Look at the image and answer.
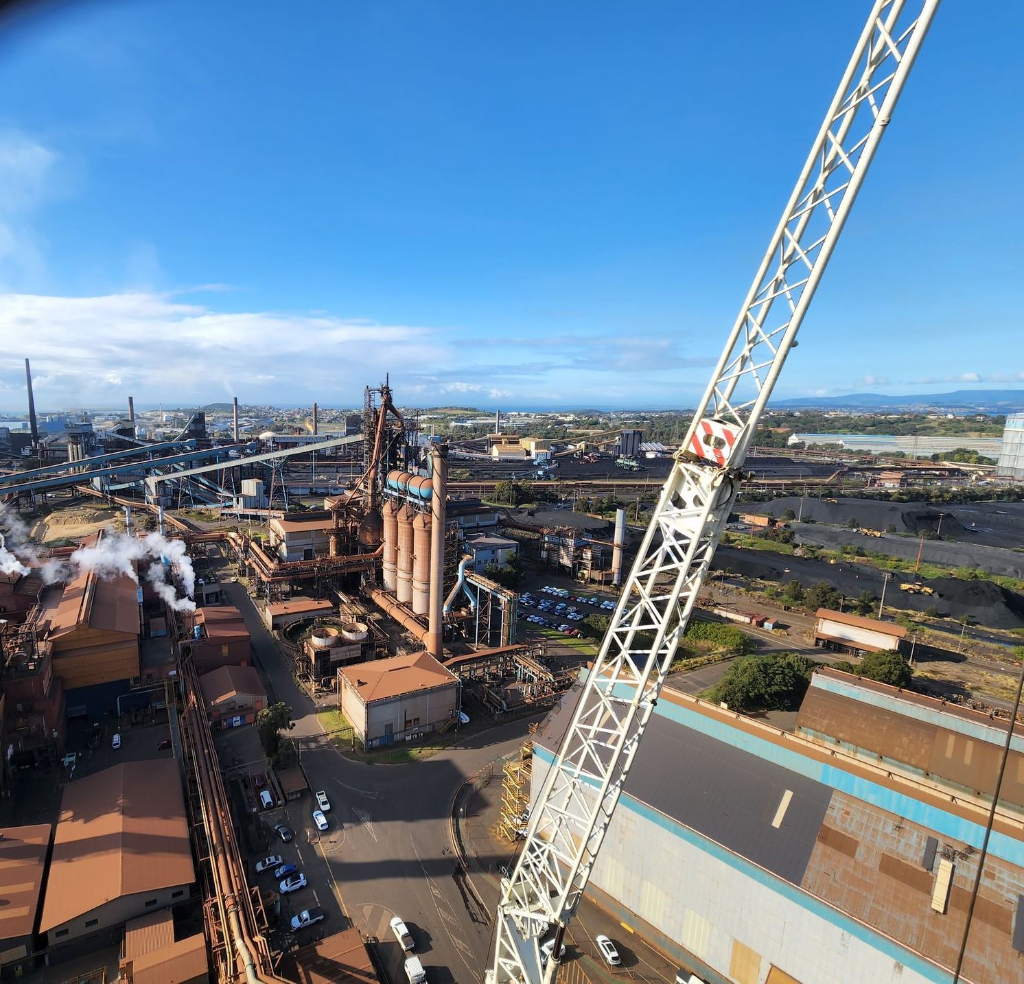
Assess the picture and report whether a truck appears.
Yes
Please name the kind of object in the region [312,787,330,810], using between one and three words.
vehicle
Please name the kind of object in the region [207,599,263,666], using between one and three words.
building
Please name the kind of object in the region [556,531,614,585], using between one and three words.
house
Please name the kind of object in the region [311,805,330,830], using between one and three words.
car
